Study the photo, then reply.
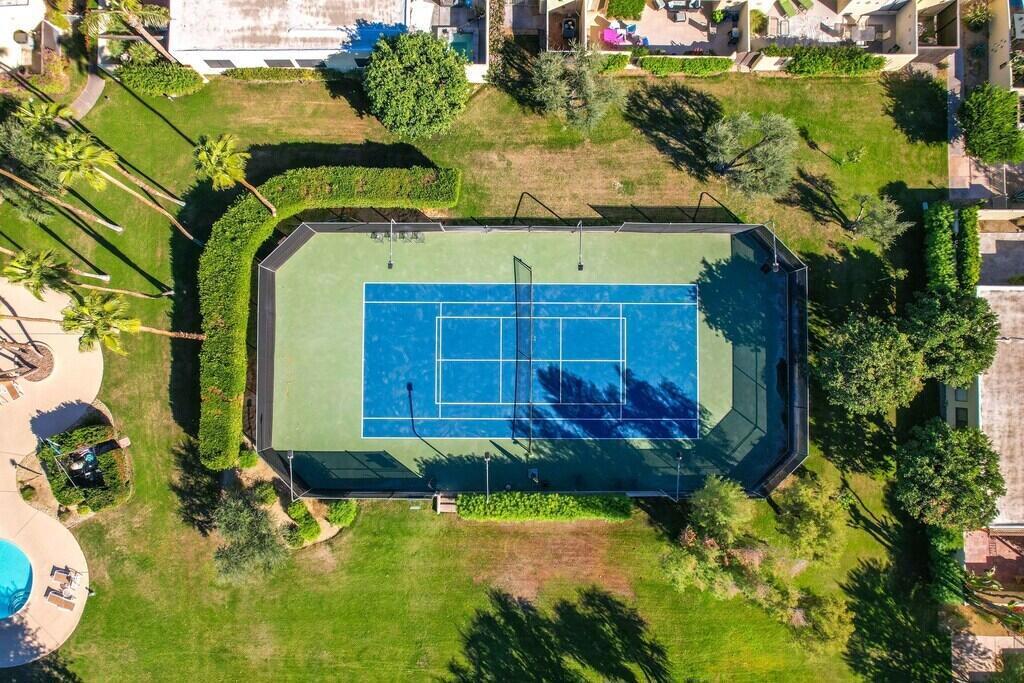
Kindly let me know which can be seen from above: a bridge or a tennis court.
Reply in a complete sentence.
It is a tennis court that can be seen here.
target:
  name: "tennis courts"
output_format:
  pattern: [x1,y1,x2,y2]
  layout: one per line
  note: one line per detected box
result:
[272,231,788,495]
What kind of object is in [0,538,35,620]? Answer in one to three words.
swimming pool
